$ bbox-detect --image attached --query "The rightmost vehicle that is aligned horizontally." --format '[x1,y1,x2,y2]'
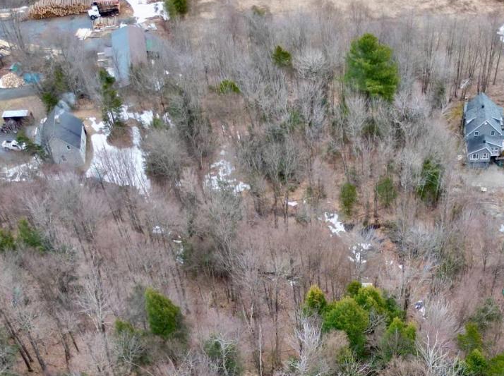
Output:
[86,2,121,21]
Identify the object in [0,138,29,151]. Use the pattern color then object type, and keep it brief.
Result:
white vehicle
